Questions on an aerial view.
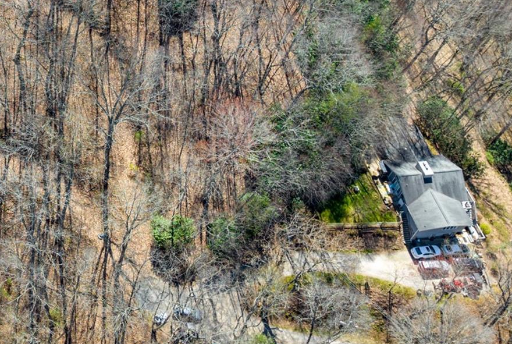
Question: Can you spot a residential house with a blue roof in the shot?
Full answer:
No, I find no residential house with a blue roof anywhere in the image.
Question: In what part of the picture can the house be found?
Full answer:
You can find the house in the right area of the picture.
